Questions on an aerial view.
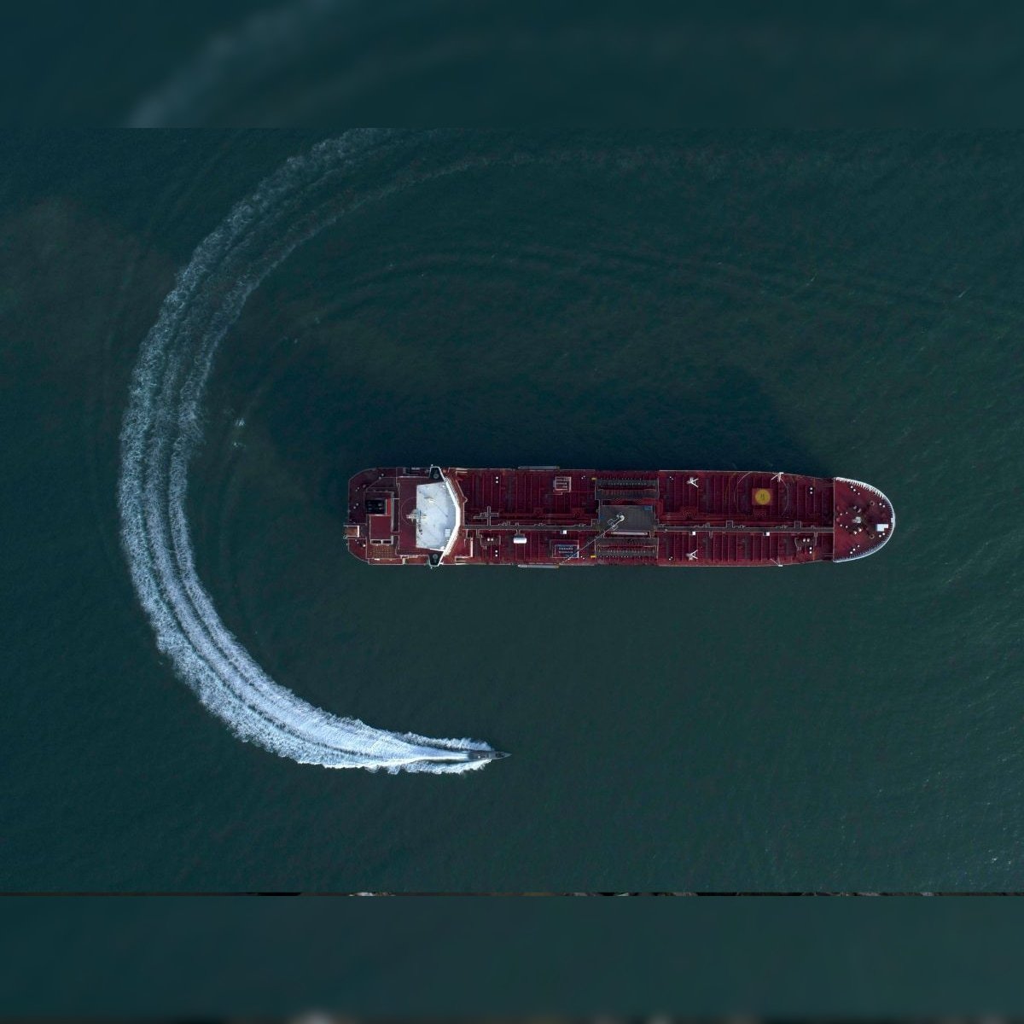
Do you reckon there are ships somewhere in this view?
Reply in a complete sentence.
Yes, there is a ship in the image.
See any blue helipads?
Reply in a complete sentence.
No, no blue helipad can be seen from above.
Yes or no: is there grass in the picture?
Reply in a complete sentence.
No, there's no grass in this view.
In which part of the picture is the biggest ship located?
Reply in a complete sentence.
The biggest ship is in the center part of the image.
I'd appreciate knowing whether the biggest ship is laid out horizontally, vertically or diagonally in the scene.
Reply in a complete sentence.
Seen from above, the biggest ship lies horizontally.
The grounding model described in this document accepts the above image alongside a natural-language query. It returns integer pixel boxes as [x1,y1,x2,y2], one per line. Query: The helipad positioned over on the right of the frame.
[736,474,788,519]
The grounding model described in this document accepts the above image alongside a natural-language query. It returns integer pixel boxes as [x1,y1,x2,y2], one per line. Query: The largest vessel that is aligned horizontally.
[343,464,896,569]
